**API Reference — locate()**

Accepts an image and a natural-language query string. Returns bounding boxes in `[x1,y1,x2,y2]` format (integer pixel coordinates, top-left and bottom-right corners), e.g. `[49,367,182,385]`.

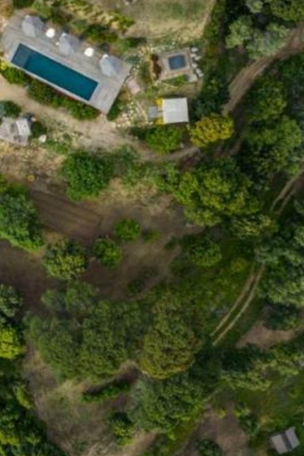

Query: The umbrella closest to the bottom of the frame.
[96,52,120,74]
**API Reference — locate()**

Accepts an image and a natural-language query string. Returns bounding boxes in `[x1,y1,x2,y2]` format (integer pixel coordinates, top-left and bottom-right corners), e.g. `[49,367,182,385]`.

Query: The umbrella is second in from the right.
[56,33,78,53]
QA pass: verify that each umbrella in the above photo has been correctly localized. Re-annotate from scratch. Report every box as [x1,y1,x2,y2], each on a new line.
[21,15,42,37]
[56,33,78,53]
[96,52,120,74]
